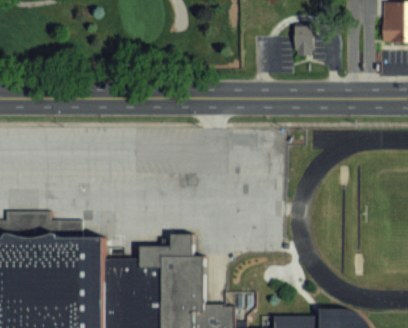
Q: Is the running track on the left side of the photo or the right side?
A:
right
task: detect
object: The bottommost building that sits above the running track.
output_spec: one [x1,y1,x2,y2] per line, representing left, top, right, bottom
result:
[295,26,314,57]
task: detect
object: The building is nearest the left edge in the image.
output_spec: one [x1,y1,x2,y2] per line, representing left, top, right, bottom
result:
[0,210,258,328]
